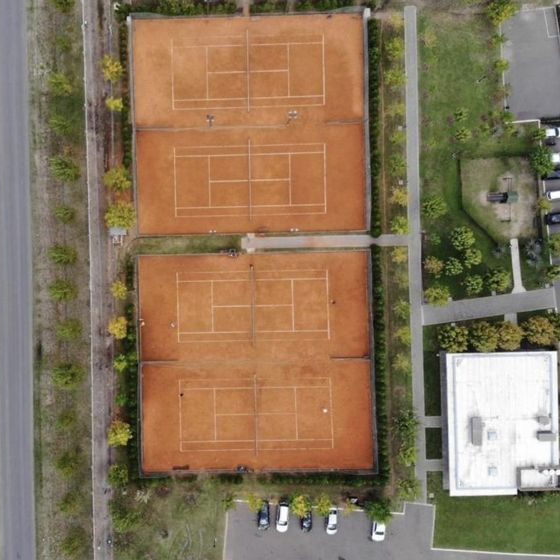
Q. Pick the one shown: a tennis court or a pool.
tennis court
